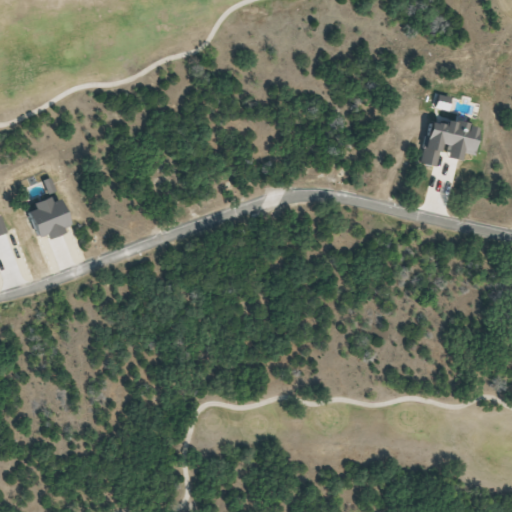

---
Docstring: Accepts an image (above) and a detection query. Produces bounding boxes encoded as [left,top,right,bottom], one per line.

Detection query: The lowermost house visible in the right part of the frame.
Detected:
[420,120,480,168]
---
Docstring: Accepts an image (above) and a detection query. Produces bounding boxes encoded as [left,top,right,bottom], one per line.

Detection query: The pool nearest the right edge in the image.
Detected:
[450,96,480,118]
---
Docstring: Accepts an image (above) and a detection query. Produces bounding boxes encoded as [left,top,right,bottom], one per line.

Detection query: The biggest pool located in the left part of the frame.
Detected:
[27,182,48,203]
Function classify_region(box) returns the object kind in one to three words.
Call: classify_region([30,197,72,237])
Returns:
house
